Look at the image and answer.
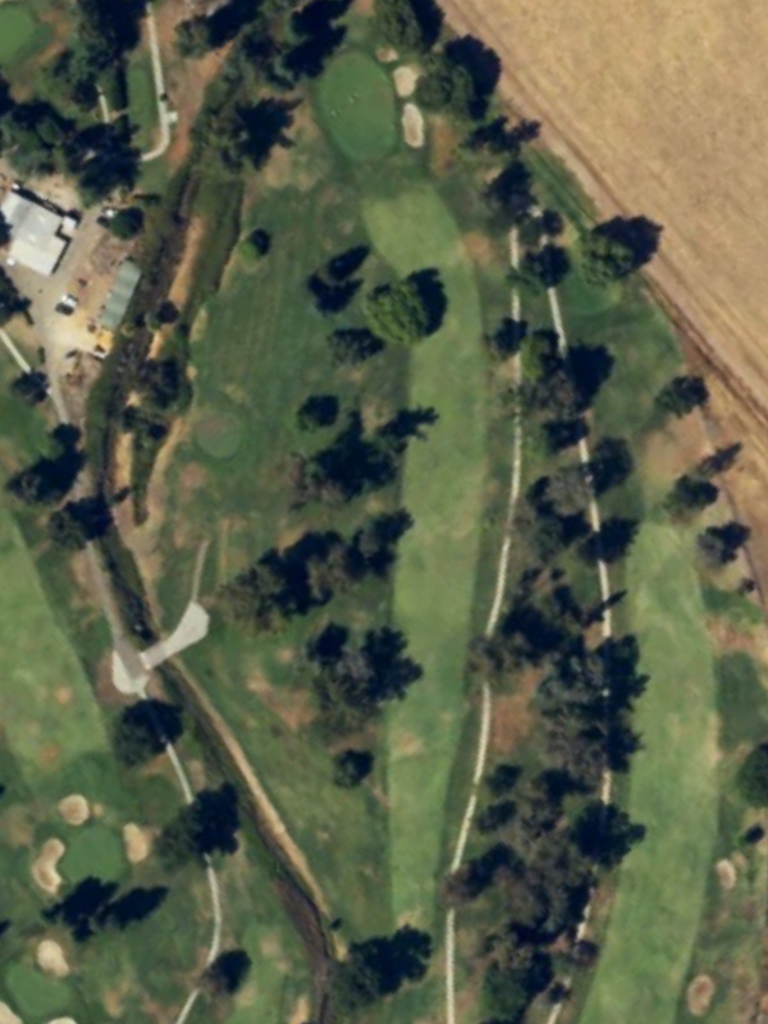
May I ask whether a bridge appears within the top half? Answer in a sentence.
No, I see no bridge within the top half.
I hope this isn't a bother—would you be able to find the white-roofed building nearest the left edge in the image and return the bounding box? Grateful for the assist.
[0,191,66,276]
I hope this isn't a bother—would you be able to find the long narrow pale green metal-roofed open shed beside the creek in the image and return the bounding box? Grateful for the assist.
[101,263,140,328]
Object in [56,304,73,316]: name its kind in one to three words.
vehicle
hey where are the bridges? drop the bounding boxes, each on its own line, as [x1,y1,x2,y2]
[137,639,175,669]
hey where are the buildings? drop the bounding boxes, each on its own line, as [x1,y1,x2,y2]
[0,191,66,276]
[60,216,78,235]
[101,263,140,328]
